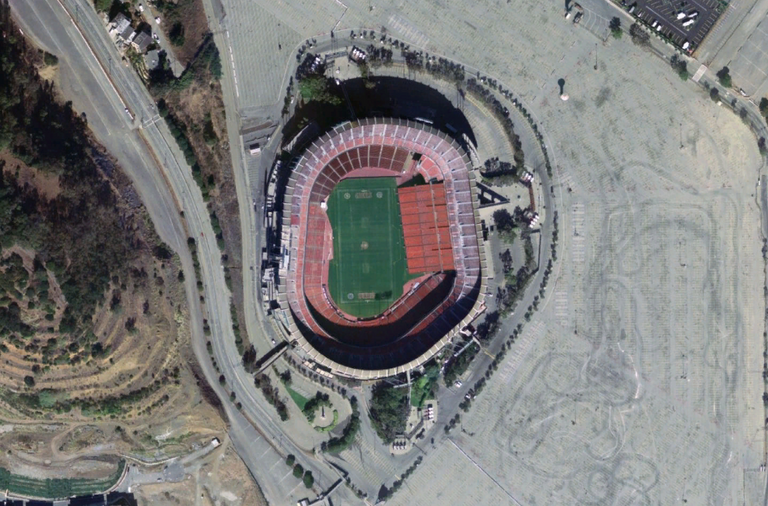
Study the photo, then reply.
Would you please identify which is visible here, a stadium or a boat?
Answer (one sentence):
This aerial view contains a stadium.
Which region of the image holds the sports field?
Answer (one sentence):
The sports field is in the center part of the image.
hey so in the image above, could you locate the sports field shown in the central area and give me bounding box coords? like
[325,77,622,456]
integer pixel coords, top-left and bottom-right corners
[327,177,420,317]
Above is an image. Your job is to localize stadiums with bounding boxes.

[261,80,510,405]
